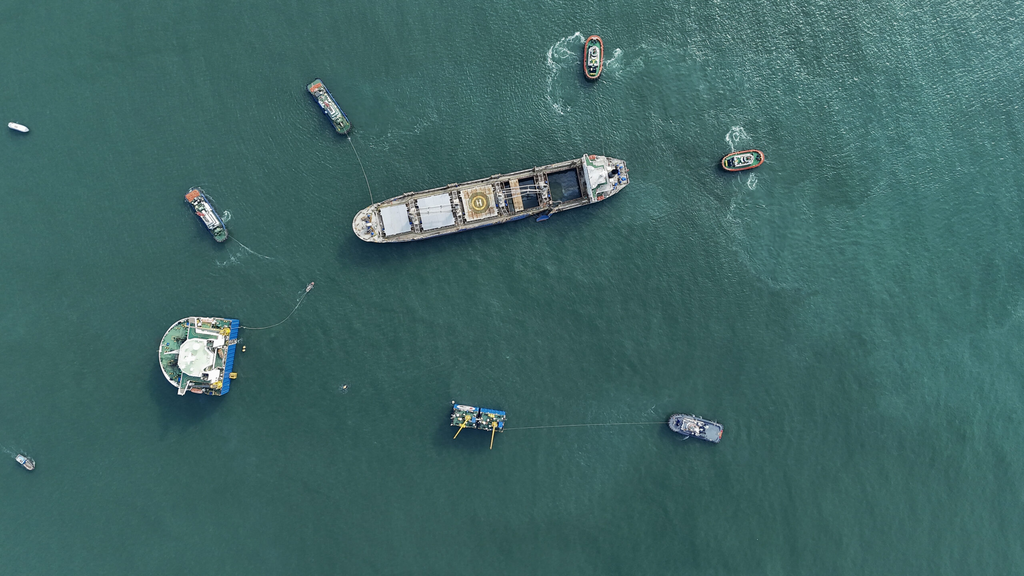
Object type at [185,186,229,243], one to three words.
boat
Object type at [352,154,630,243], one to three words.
ship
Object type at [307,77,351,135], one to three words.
boat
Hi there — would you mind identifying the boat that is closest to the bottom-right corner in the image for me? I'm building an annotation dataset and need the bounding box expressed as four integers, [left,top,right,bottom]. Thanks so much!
[668,413,723,443]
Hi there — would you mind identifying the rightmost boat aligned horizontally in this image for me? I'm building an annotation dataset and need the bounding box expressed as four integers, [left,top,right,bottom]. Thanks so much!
[720,149,765,173]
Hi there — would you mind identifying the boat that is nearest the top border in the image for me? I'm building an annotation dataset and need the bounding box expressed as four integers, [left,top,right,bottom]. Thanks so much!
[583,35,604,81]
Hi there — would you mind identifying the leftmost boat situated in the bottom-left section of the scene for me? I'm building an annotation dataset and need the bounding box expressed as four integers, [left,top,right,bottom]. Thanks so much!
[14,454,35,469]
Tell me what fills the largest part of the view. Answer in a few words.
water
